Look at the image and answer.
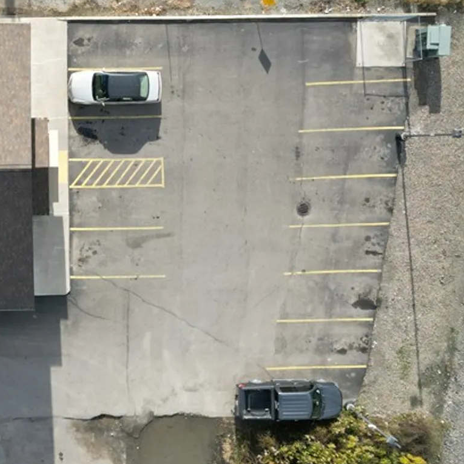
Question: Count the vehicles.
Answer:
two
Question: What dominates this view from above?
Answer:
paved ground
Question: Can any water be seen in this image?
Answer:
No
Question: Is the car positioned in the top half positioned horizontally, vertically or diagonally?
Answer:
horizontally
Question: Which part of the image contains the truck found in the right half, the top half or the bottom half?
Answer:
bottom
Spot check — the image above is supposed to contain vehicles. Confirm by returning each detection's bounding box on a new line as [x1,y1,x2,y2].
[233,379,341,426]
[67,67,163,106]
